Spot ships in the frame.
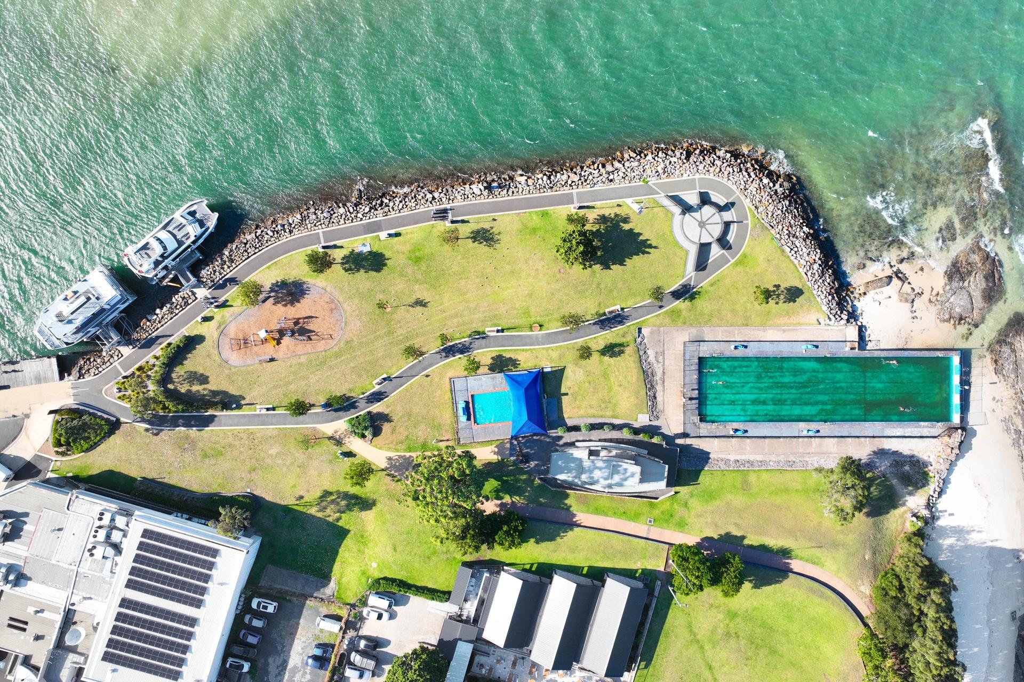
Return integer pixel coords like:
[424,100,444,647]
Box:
[35,266,138,349]
[123,200,219,285]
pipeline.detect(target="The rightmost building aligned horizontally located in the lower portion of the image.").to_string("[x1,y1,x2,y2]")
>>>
[536,439,680,503]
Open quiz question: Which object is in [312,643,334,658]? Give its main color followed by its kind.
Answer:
blue car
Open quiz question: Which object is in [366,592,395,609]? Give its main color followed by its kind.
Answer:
white vehicle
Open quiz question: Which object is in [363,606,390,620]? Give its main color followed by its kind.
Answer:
white car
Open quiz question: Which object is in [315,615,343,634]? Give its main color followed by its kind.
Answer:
white vehicle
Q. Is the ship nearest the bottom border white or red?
white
